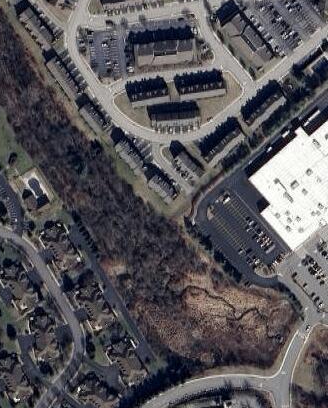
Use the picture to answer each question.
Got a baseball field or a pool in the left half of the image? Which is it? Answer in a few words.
pool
